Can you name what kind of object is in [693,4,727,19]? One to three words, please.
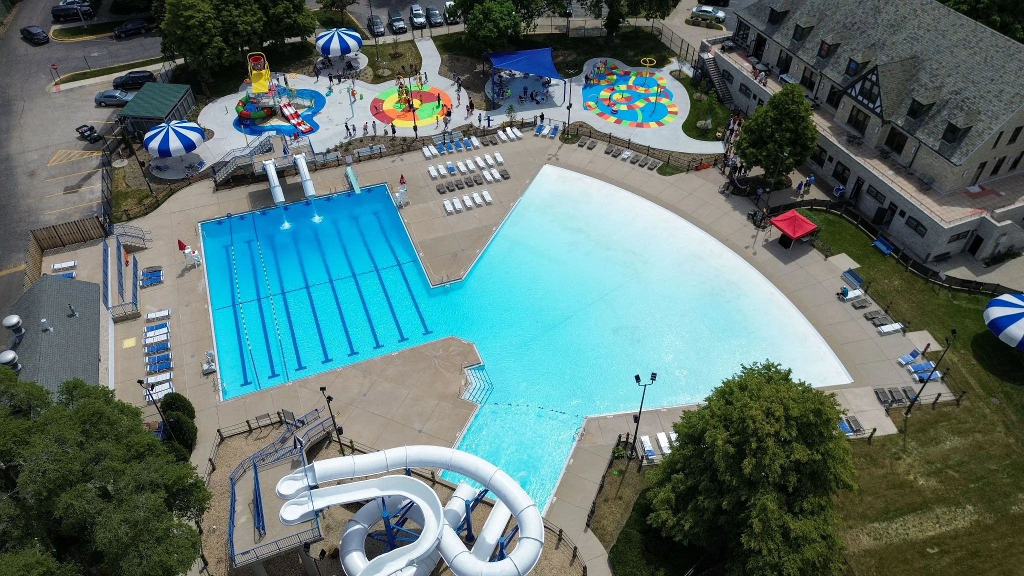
car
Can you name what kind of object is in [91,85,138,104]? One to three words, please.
car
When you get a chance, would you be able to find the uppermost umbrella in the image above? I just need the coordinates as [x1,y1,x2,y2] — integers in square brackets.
[315,32,362,67]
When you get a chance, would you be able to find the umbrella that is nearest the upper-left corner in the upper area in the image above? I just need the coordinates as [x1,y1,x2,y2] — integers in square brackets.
[144,124,204,167]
